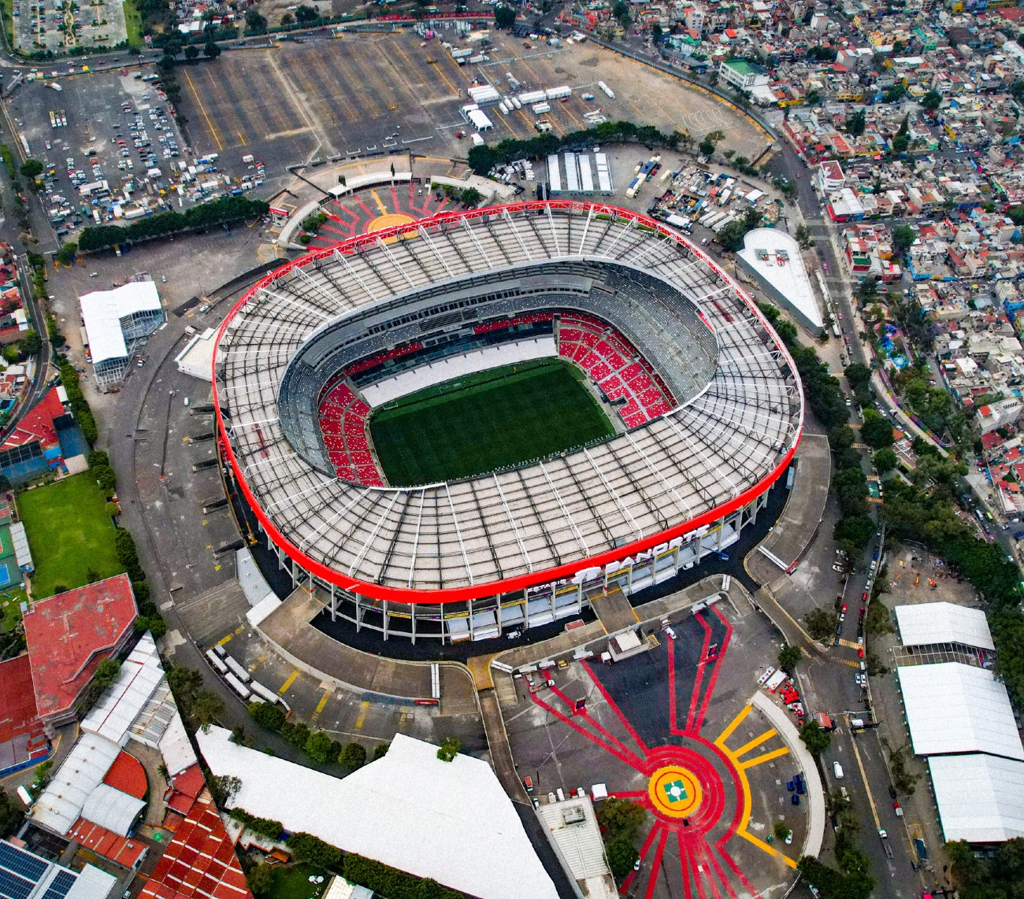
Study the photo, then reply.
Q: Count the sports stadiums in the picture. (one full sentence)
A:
I count 1 sports stadium.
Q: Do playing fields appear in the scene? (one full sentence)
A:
Yes, you can see a playing field in this photo.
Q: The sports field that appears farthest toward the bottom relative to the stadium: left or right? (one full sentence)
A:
The sports field that appears farthest toward the bottom can be seen on the left of the stadium.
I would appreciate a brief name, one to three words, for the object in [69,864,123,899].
shed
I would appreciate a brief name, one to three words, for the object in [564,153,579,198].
tent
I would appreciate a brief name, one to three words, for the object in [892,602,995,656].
tent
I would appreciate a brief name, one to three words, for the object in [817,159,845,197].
building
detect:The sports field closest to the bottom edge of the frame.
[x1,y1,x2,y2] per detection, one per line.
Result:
[16,469,126,604]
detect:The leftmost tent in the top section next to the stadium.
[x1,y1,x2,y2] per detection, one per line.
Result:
[80,281,167,382]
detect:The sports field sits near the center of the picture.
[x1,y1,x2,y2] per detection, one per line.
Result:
[367,367,614,488]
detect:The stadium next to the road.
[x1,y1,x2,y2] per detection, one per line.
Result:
[213,201,805,643]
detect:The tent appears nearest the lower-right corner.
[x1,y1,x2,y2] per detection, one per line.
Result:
[924,754,1024,848]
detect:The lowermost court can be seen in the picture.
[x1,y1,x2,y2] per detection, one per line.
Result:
[0,524,21,588]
